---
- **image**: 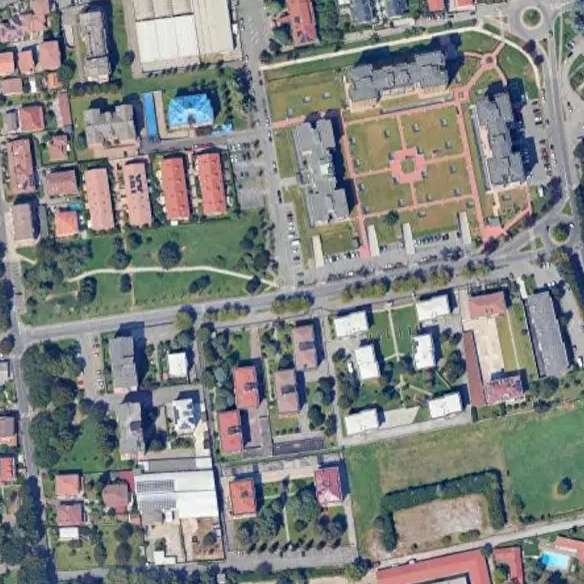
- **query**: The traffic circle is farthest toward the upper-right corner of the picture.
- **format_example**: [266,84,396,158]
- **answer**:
[507,0,554,39]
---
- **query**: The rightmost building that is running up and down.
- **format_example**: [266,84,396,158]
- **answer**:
[526,292,569,380]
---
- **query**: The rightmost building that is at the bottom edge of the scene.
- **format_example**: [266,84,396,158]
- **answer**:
[556,537,584,561]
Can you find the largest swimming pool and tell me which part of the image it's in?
bottom right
